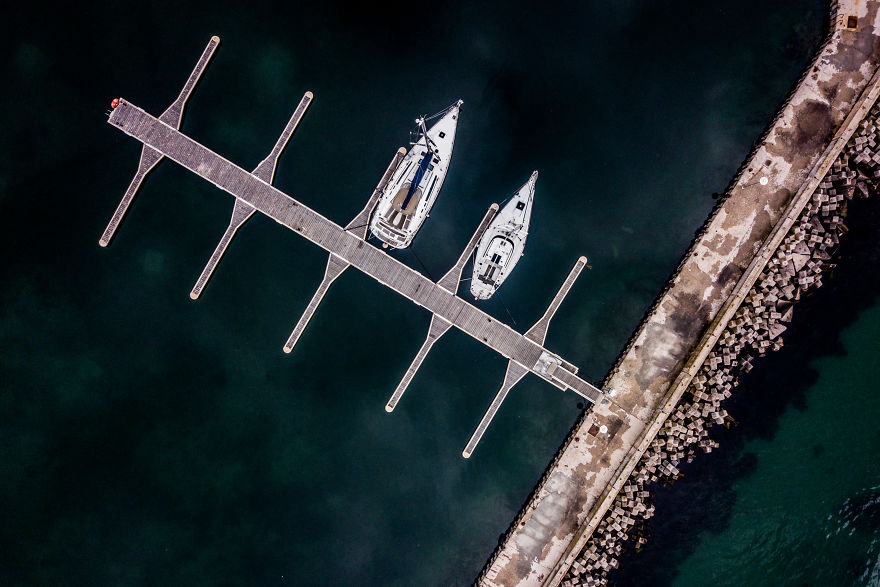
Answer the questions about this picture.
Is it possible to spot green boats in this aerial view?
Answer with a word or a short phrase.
No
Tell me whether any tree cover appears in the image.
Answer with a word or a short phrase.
No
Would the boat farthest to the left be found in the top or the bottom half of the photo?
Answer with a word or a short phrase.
top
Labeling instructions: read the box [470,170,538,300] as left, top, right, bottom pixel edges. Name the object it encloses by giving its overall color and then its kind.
white boat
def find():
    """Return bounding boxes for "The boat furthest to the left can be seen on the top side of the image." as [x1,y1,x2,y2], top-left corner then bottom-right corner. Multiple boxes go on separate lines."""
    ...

[369,99,463,250]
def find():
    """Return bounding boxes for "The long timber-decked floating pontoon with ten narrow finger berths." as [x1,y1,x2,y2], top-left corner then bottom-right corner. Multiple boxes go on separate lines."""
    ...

[100,36,586,458]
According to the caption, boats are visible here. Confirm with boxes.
[369,99,463,250]
[470,170,538,300]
